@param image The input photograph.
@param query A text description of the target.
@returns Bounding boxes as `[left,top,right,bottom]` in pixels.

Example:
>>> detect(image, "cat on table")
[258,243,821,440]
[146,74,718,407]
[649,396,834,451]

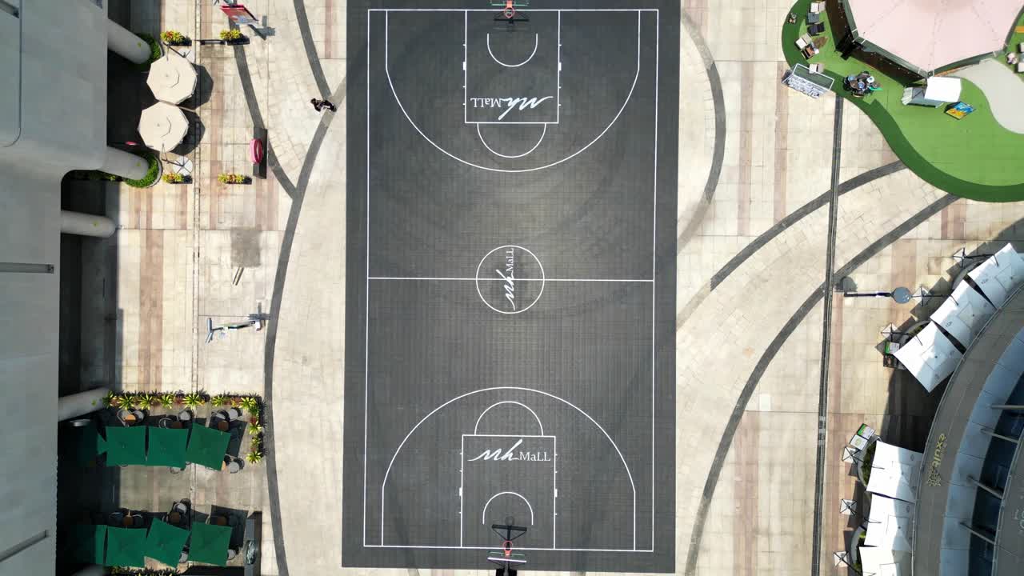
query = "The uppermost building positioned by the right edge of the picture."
[833,0,1024,80]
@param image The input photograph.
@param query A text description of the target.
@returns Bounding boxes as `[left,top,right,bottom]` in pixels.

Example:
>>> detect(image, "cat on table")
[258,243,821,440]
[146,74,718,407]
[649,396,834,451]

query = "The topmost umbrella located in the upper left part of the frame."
[146,39,199,105]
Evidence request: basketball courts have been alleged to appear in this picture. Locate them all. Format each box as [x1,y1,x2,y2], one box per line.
[343,0,681,569]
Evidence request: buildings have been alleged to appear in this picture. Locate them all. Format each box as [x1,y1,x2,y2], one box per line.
[0,0,149,576]
[833,0,1024,80]
[909,278,1024,576]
